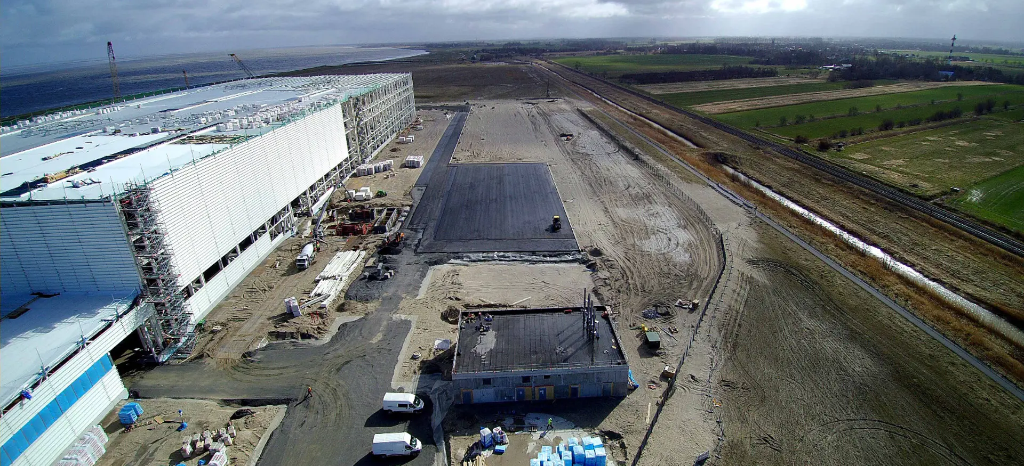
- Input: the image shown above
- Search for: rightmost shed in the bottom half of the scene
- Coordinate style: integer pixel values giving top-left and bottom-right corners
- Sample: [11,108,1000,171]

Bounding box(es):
[640,329,665,352]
